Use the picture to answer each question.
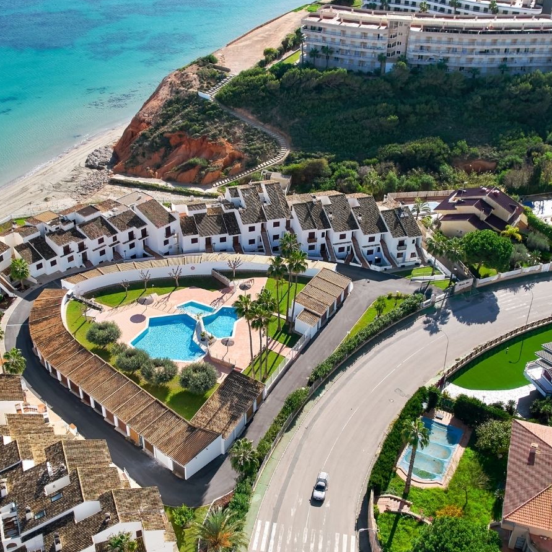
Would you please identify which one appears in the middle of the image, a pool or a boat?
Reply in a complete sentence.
Looking in the middle of the image, you will find a pool.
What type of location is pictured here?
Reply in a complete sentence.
What you see here is a residential area.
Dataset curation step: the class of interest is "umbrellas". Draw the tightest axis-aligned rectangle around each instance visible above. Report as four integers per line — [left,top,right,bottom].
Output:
[213,342,234,359]
[132,297,151,315]
[236,281,255,293]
